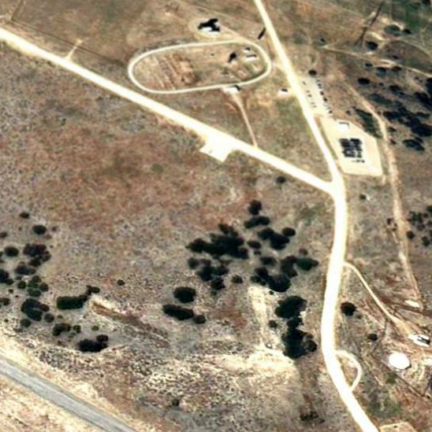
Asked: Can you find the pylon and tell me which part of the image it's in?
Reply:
top right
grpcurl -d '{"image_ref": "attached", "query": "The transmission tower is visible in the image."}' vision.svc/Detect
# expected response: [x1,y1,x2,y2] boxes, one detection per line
[359,9,381,48]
